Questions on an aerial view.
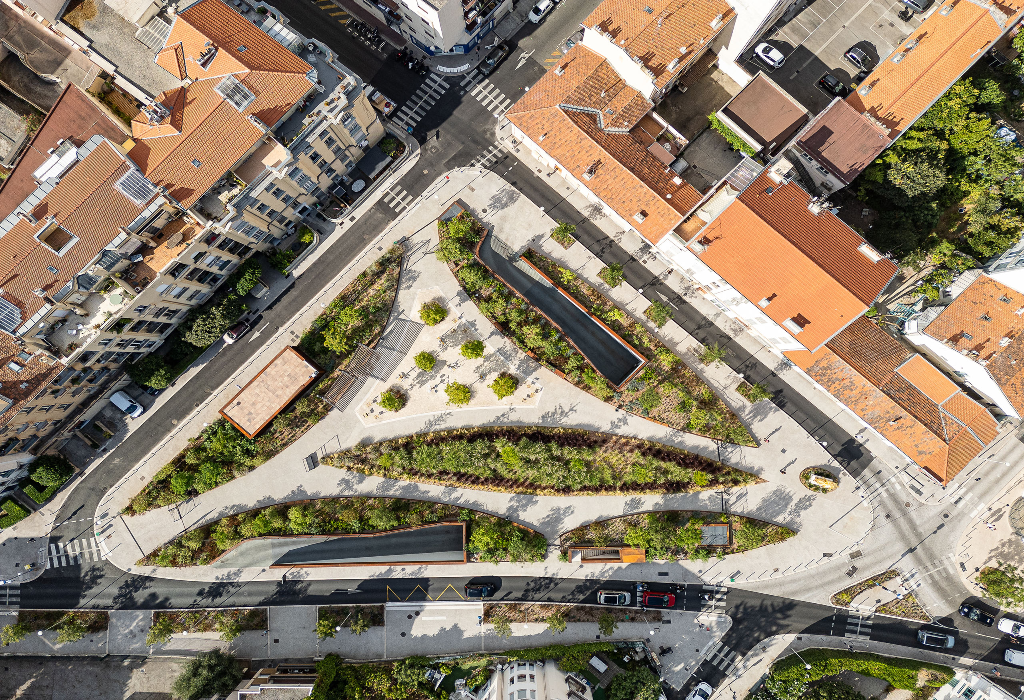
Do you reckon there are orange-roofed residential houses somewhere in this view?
Yes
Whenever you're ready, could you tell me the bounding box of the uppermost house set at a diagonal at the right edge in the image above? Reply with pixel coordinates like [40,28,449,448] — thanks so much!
[842,0,1003,135]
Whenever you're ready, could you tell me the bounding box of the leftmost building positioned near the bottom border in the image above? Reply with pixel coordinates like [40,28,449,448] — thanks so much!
[237,648,337,700]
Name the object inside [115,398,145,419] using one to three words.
vehicle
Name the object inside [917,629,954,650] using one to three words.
car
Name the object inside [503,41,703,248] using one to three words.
house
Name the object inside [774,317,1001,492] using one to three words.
house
